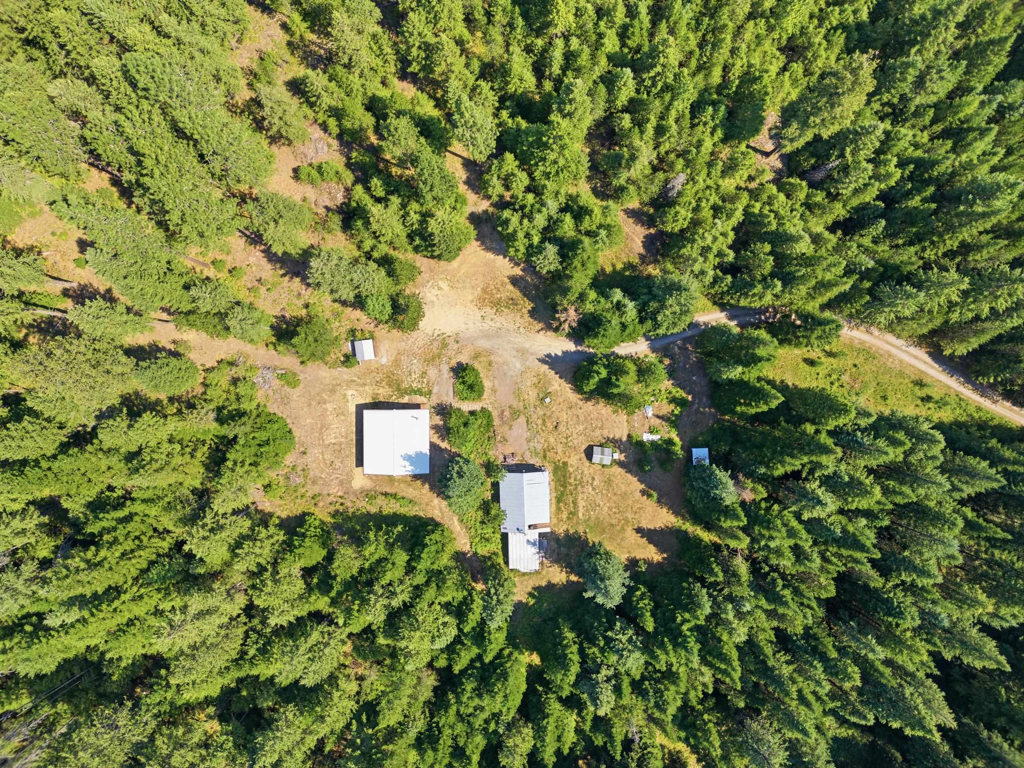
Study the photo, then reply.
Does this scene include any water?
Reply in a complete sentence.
No, there's no water in this view.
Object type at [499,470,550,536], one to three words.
house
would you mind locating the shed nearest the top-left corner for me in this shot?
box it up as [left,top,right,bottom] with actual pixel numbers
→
[355,339,377,360]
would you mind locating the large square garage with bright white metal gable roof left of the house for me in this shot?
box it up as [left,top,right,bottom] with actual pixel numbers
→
[364,409,431,475]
